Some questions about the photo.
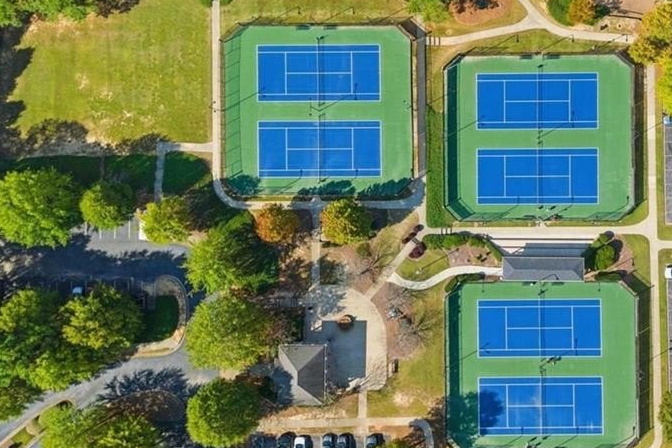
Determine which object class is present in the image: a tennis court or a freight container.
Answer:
tennis court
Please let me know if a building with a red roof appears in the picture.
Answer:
No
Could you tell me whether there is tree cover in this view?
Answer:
Yes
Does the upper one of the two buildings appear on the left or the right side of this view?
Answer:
right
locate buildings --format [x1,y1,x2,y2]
[502,254,585,281]
[279,336,334,405]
